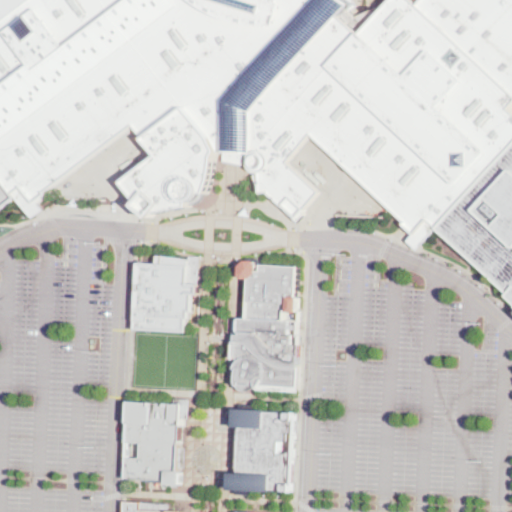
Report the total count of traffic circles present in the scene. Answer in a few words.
none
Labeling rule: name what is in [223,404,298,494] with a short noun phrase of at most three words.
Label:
building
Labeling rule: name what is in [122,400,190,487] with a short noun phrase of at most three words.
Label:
building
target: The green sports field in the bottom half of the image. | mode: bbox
[132,332,198,390]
